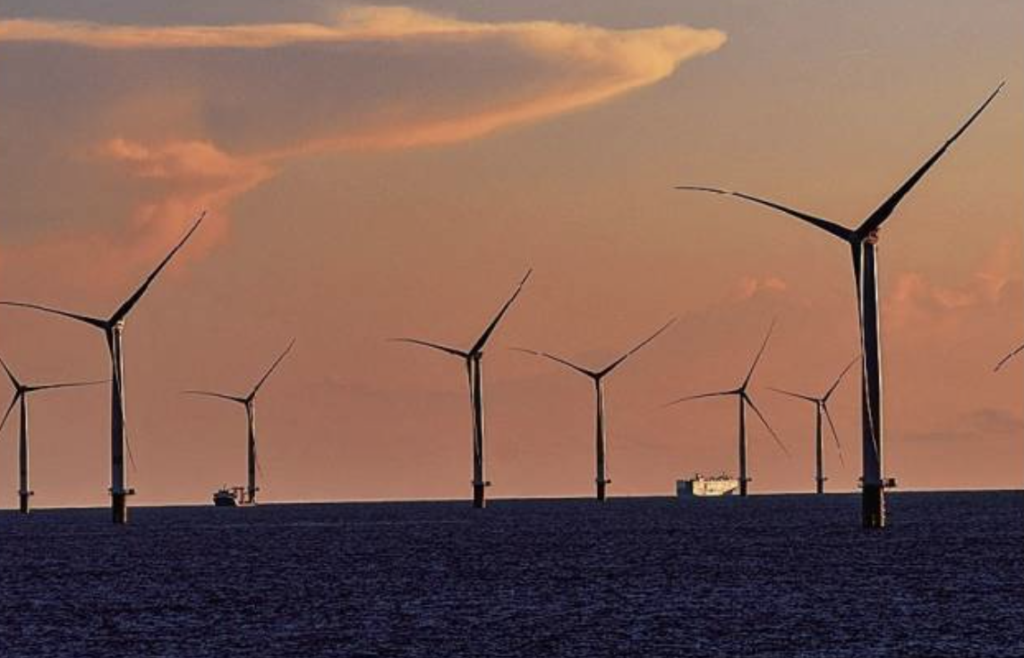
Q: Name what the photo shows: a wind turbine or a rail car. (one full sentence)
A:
It is a wind turbine that can be seen here.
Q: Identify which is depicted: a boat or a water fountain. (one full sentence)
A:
Of the two, only a boat appears.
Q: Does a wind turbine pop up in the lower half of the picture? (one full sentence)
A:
Yes, looking in the lower half of the picture, one can make out a wind turbine.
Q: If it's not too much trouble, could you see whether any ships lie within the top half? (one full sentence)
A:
No, no ship appears within the top half.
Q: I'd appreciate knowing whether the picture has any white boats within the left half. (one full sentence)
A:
No, looking within the left half, there is no white boat.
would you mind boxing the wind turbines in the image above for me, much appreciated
[996,347,1024,370]
[388,271,530,507]
[510,319,675,501]
[0,354,106,512]
[680,81,1003,527]
[0,212,205,523]
[770,360,859,494]
[188,340,295,506]
[664,320,789,496]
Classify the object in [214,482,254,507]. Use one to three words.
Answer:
boat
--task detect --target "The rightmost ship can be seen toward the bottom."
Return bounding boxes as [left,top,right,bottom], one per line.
[678,472,736,497]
